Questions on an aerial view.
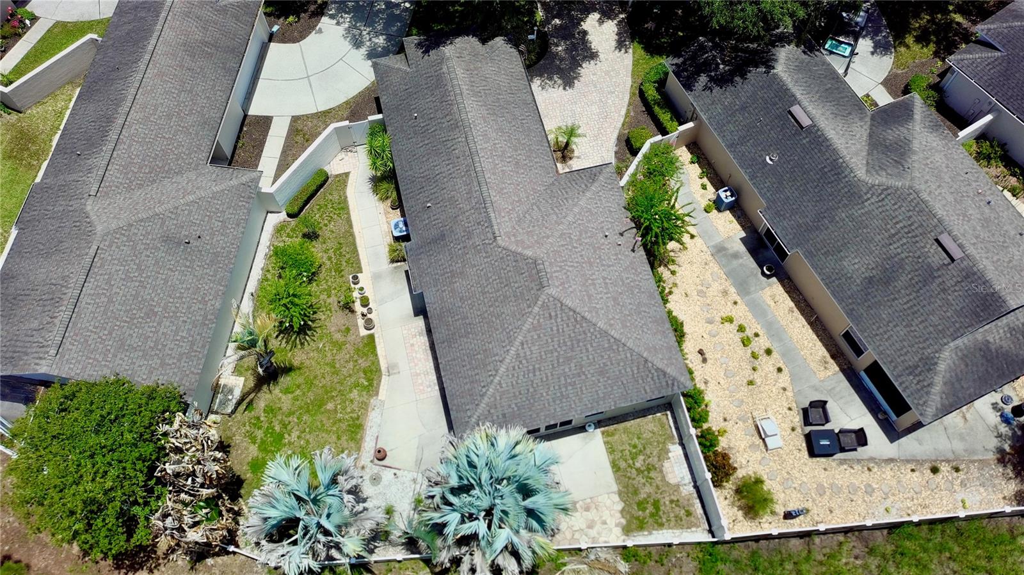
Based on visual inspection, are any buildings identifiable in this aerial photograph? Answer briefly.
Yes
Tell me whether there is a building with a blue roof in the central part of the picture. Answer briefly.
No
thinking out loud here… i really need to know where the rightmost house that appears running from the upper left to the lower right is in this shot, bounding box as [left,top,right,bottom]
[664,23,1024,429]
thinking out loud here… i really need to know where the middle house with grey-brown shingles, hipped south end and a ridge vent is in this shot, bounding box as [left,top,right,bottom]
[370,23,694,442]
